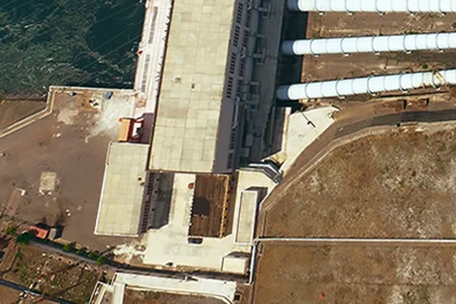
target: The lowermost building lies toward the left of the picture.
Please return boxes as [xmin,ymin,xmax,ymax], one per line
[93,271,240,304]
